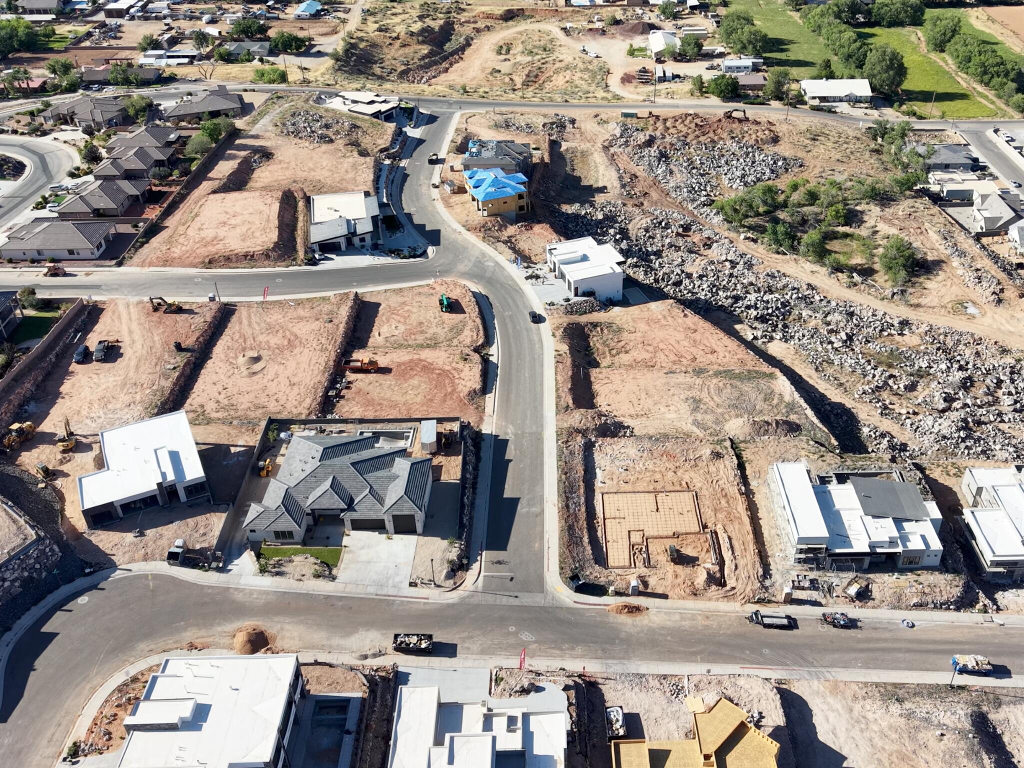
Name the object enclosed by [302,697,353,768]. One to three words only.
swimming pool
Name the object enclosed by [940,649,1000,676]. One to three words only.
trailer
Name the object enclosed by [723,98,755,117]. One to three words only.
work vehicle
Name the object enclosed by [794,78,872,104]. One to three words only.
house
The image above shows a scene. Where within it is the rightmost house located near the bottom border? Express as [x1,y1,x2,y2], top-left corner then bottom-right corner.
[612,698,780,768]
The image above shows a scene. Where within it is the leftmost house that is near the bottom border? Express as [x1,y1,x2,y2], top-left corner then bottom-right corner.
[118,655,306,768]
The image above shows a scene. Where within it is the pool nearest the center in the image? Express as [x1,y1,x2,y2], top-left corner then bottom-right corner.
[357,427,413,448]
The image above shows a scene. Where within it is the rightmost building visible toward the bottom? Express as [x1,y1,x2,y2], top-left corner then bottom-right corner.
[958,467,1024,584]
